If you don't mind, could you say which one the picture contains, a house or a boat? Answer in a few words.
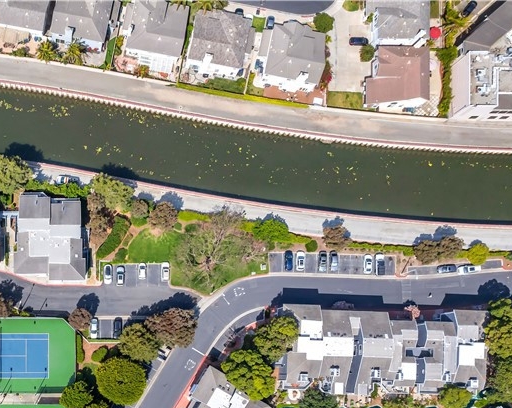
house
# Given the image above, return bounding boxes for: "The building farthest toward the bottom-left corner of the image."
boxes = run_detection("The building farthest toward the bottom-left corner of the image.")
[13,192,86,283]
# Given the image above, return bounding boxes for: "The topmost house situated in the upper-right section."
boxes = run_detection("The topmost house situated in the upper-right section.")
[356,0,430,51]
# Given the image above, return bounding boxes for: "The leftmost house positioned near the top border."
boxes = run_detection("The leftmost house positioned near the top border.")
[0,0,55,48]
